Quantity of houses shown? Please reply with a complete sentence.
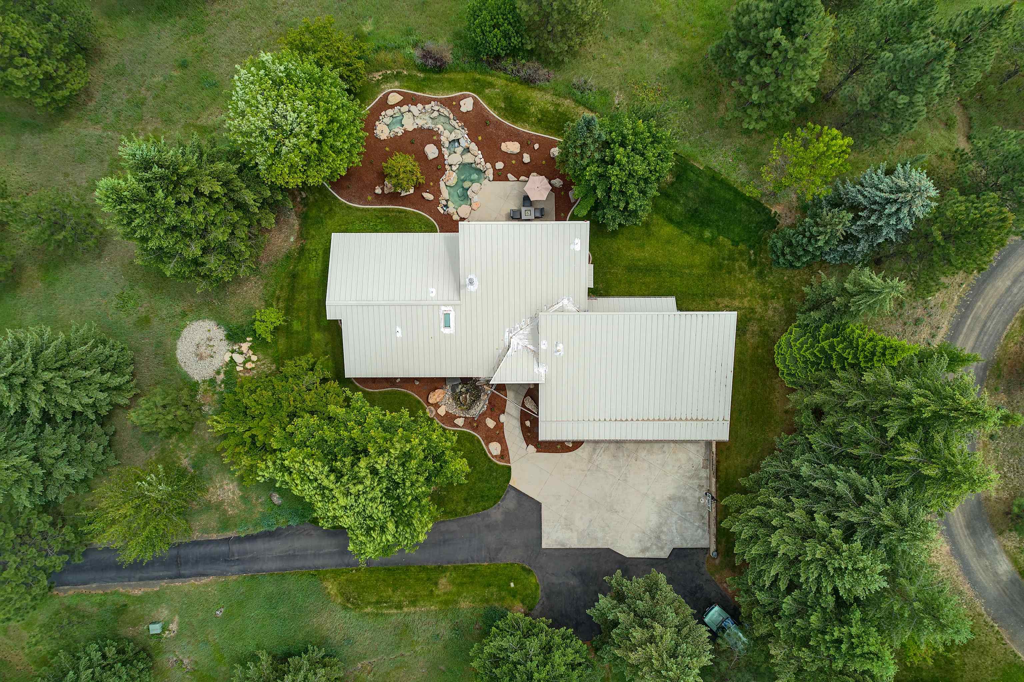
The photo contains exactly 1 house.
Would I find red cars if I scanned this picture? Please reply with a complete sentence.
No, I find no red car anywhere in the image.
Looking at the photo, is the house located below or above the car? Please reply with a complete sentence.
The house is above the car.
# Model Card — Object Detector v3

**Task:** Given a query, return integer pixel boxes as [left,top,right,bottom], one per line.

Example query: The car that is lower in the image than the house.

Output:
[703,605,752,662]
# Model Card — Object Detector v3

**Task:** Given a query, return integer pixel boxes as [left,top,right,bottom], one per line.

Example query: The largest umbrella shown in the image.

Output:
[524,176,552,201]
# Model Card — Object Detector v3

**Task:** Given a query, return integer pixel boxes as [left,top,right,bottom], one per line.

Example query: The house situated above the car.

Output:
[325,222,737,444]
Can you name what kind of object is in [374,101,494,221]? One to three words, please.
pond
